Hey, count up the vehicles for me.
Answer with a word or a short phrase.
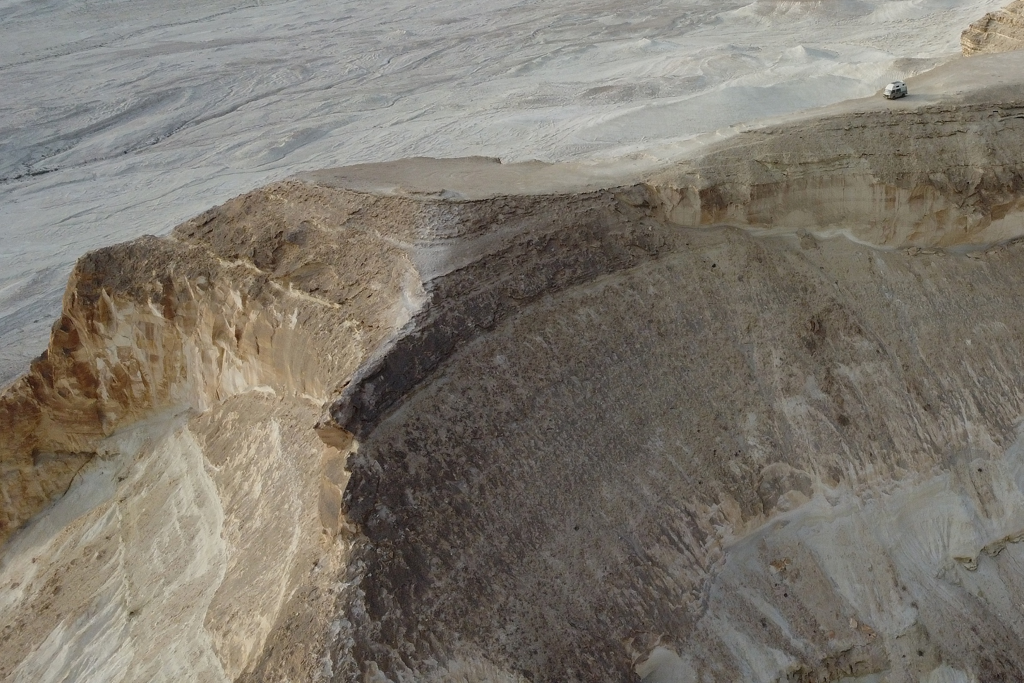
one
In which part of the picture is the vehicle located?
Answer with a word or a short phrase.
top right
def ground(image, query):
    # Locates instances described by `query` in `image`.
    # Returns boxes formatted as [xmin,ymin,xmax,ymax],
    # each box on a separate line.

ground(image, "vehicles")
[886,81,913,102]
